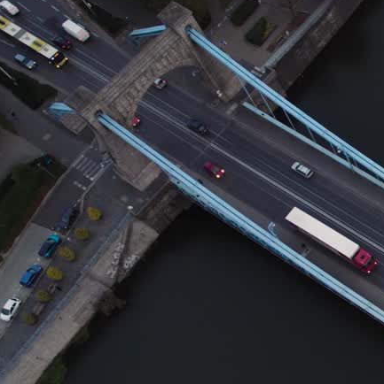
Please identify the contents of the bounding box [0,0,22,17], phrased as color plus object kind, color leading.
white car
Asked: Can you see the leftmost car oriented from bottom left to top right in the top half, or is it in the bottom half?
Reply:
bottom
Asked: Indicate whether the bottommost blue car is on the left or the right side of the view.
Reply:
left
